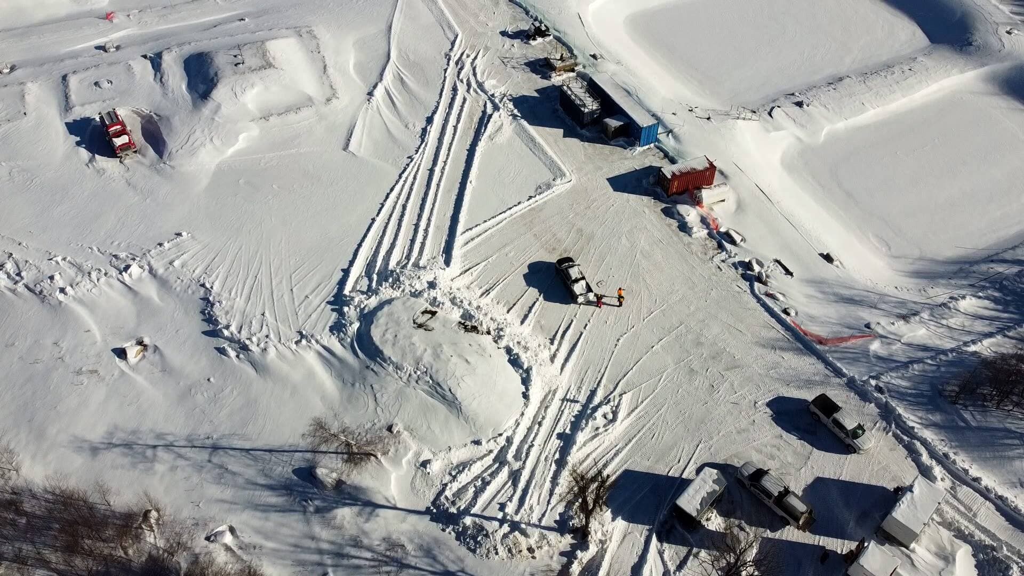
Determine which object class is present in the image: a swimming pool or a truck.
truck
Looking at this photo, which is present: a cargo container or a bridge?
cargo container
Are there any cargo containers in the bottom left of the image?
No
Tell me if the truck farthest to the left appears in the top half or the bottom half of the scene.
top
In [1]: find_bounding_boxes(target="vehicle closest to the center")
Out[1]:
[556,257,595,307]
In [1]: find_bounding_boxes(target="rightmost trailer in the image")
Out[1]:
[886,472,949,539]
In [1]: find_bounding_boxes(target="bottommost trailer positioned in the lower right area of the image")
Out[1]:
[837,536,902,576]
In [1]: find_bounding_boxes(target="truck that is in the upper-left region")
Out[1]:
[100,113,141,163]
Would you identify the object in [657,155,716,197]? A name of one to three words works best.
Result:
shipping container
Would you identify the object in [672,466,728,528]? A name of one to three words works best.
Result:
trailer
